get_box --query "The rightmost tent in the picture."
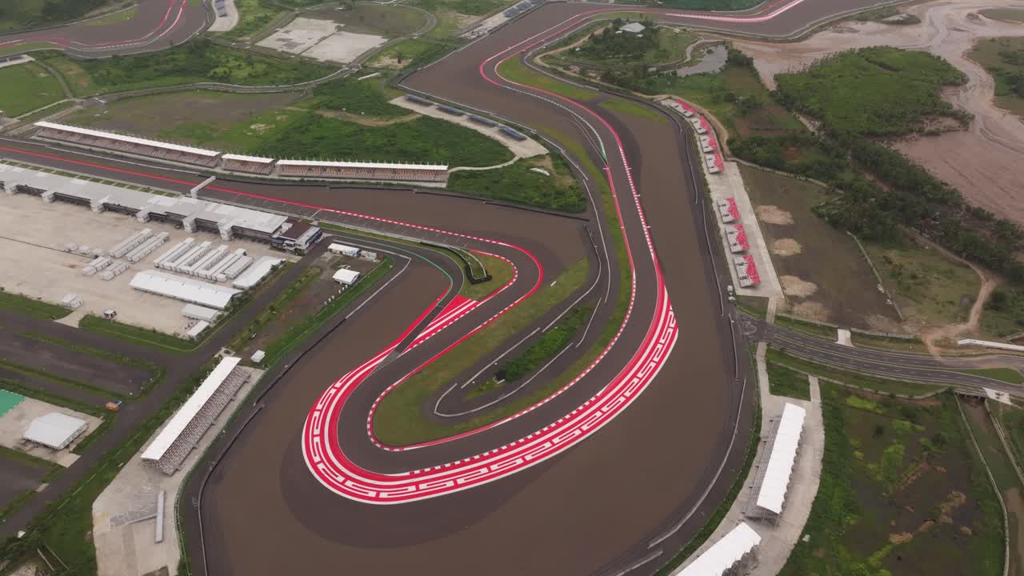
[333,269,361,287]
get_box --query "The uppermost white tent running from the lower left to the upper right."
[233,254,286,293]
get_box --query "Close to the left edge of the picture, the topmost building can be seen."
[0,165,291,242]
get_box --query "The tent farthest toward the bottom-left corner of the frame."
[24,413,87,454]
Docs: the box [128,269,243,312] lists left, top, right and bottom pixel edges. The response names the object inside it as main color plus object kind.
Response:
white tent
